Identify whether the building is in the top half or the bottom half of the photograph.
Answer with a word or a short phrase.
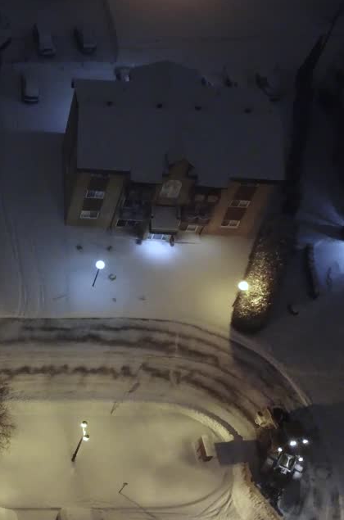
top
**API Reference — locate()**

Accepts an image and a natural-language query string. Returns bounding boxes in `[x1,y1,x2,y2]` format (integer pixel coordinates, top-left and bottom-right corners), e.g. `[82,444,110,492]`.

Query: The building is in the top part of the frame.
[64,59,285,250]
